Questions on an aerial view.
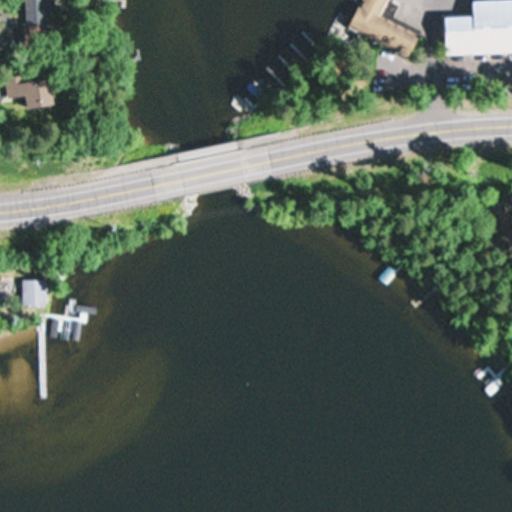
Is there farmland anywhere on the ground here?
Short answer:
No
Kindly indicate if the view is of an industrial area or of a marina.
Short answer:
marina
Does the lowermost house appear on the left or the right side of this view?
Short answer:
left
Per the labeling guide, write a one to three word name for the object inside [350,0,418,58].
building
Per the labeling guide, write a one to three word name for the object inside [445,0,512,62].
building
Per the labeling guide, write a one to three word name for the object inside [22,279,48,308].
house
